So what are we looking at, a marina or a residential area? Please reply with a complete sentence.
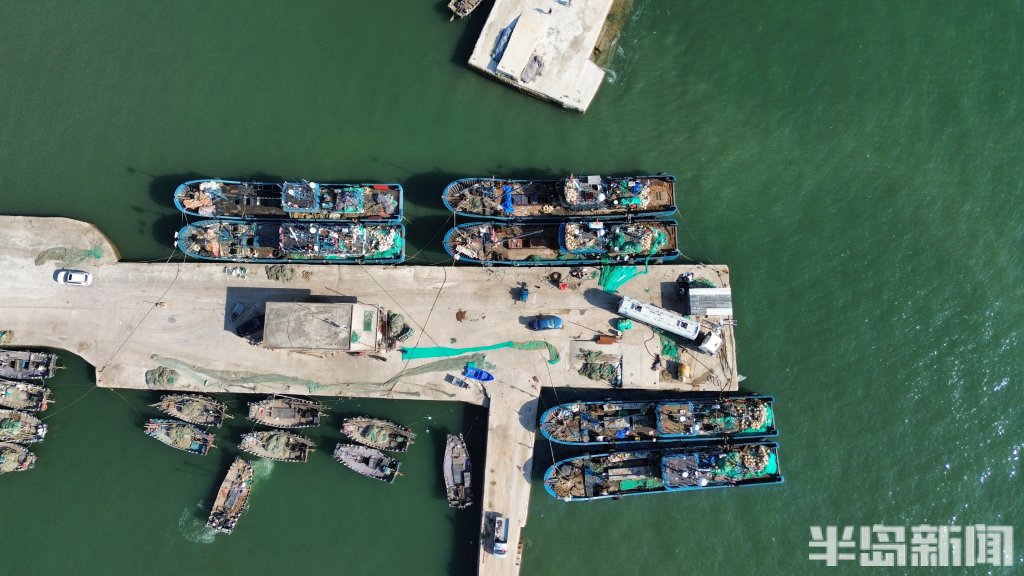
The area seen from above is a marina.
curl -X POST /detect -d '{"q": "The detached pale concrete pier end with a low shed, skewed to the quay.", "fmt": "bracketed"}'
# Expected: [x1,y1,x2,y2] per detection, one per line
[468,0,614,116]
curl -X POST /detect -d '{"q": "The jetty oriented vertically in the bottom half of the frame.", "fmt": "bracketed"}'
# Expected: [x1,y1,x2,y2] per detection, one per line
[479,388,541,576]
